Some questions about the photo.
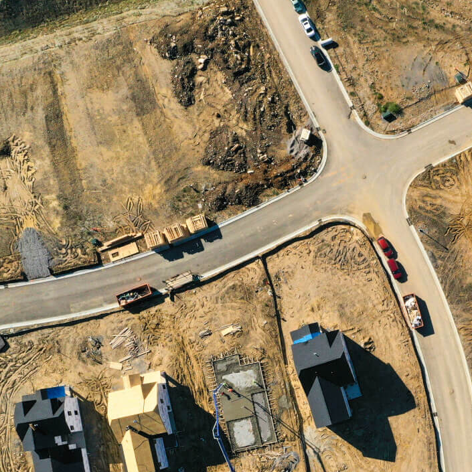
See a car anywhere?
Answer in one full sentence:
Yes, there is a car in the image.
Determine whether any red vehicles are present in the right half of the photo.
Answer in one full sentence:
Yes, a red vehicle is visible in the right half of the photo.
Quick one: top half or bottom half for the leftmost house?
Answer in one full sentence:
The leftmost house sits in the bottom half of the picture.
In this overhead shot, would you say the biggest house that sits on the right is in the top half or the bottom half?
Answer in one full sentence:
It is in the bottom half that the biggest house that sits on the right appears.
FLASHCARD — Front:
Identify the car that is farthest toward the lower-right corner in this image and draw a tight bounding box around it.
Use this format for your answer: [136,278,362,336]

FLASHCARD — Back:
[387,255,404,284]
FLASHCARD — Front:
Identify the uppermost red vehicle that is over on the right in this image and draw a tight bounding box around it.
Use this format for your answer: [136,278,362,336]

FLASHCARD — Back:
[373,228,393,257]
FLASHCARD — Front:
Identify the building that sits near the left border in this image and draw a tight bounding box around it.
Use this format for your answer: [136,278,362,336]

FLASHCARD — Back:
[12,383,87,472]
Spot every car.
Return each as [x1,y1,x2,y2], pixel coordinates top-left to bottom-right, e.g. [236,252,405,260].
[311,41,330,71]
[297,11,317,38]
[373,228,393,257]
[290,0,305,14]
[387,255,404,284]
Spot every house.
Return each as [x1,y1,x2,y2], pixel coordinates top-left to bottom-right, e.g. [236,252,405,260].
[107,370,174,472]
[12,383,87,472]
[291,320,364,428]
